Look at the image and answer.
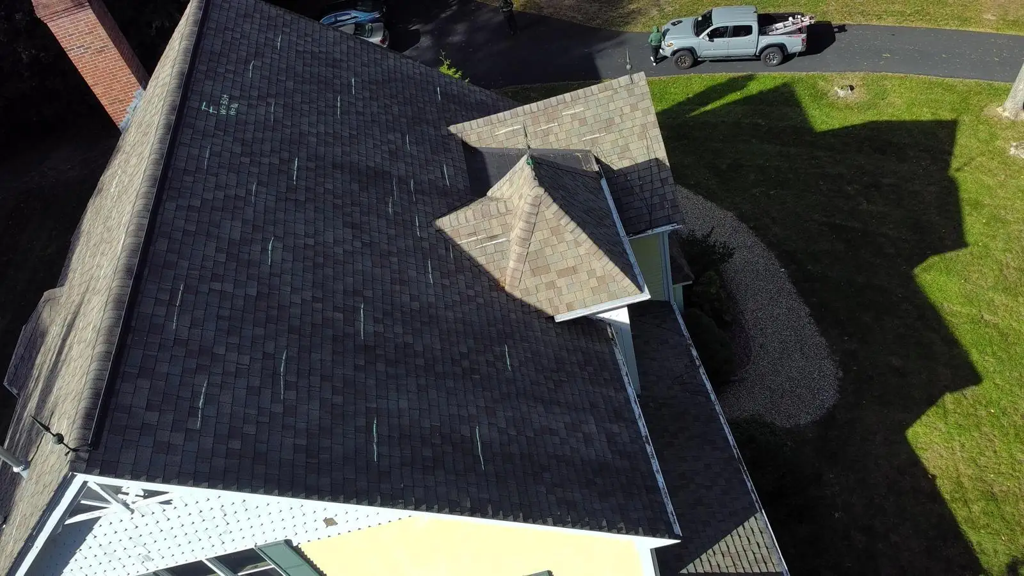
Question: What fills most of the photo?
buildings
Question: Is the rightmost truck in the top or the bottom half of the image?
top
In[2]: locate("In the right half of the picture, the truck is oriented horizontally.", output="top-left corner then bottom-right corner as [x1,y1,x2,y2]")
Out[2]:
[659,2,810,69]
